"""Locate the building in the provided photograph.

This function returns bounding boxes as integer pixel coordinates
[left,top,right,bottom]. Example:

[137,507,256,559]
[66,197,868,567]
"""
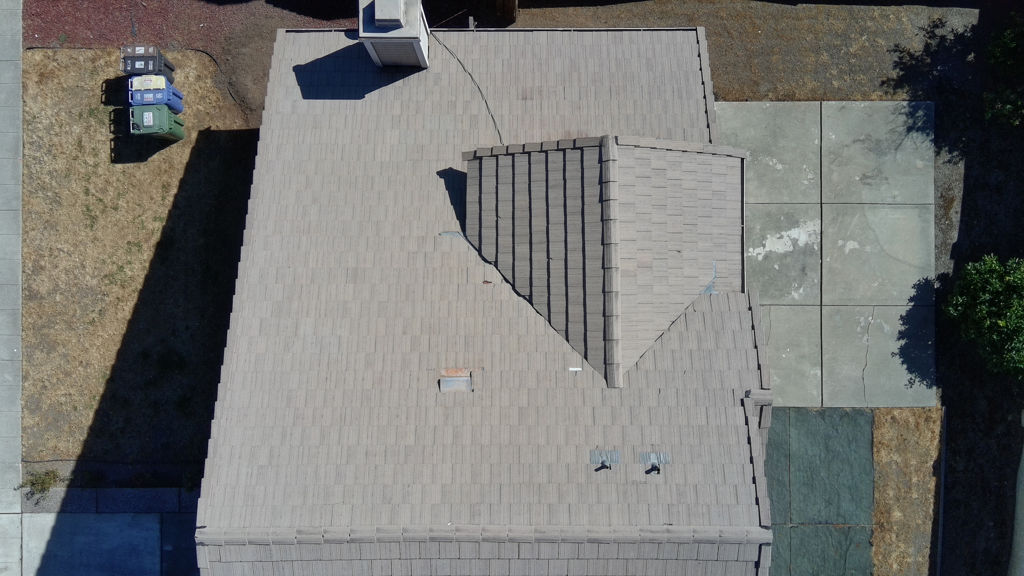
[193,0,775,576]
